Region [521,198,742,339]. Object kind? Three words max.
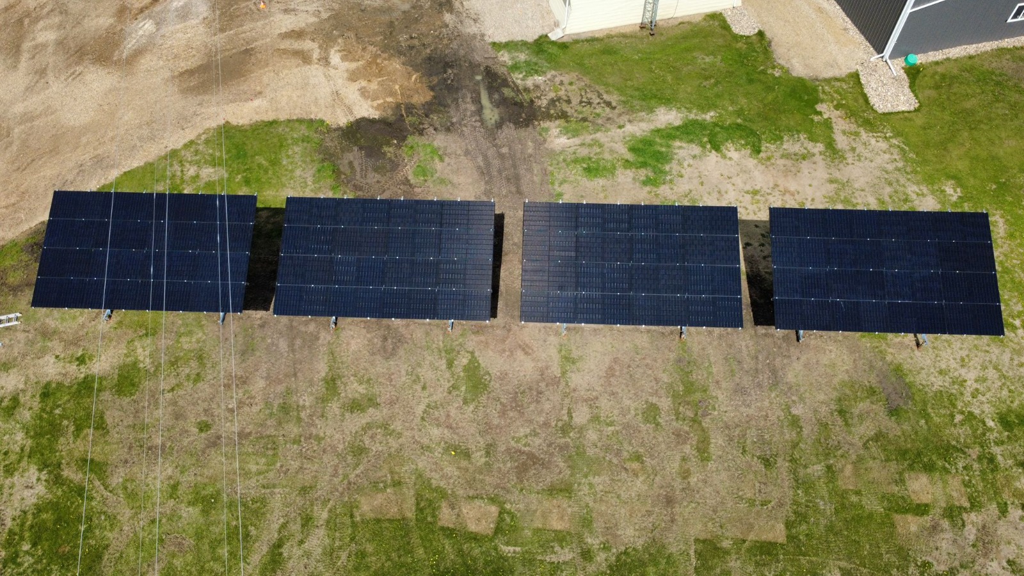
solar array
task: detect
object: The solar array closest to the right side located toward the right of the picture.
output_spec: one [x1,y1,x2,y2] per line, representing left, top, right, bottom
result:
[769,204,1003,346]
